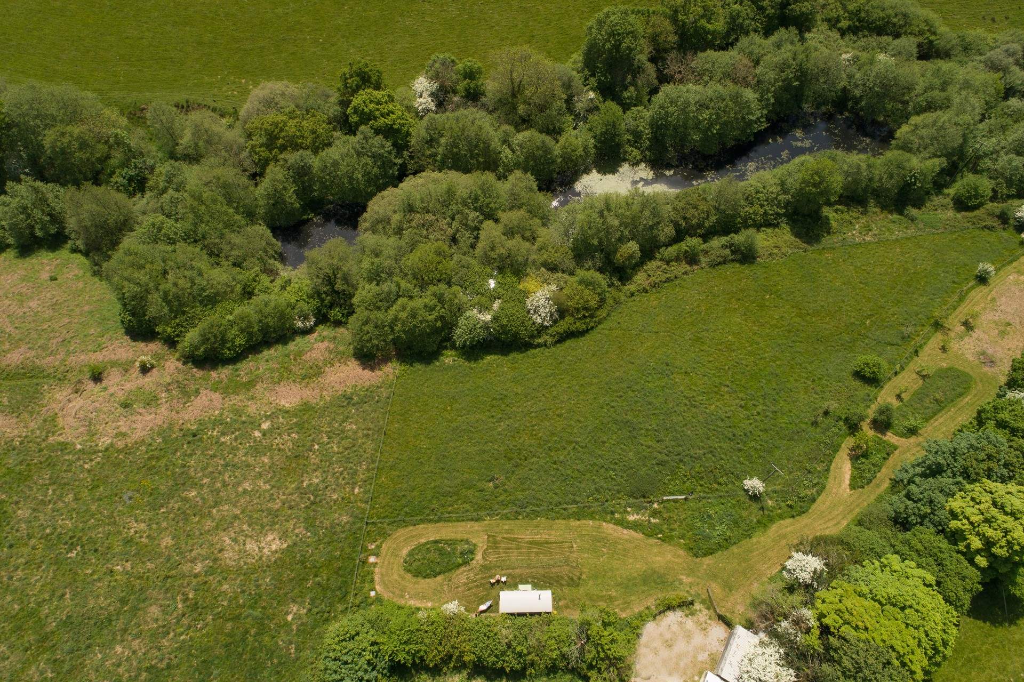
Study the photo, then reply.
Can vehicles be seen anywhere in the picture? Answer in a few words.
No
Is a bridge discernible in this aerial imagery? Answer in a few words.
No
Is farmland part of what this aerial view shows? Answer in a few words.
Yes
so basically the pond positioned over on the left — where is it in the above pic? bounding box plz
[263,194,376,275]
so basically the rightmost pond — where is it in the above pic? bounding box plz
[539,104,896,221]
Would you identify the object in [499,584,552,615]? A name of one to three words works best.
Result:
shed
